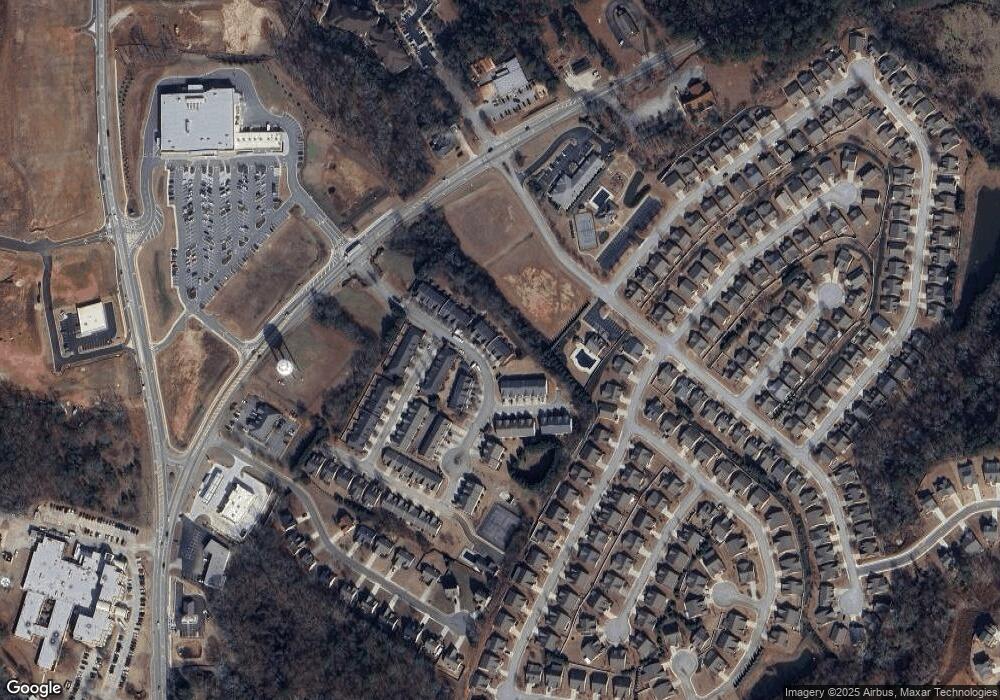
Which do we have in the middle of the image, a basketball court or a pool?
pool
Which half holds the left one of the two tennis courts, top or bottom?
bottom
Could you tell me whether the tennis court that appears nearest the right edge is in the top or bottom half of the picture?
top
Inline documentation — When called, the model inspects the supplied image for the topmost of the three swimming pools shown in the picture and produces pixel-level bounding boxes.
[591,186,613,209]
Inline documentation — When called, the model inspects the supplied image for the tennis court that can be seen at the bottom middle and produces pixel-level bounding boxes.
[477,503,522,552]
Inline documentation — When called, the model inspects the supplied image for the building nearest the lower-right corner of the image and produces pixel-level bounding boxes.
[975,658,995,680]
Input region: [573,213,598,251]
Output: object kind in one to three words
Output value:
tennis court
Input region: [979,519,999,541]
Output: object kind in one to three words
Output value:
house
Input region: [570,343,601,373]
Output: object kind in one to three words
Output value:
swimming pool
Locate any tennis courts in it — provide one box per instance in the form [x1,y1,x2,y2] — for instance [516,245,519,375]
[477,503,522,552]
[573,213,598,251]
